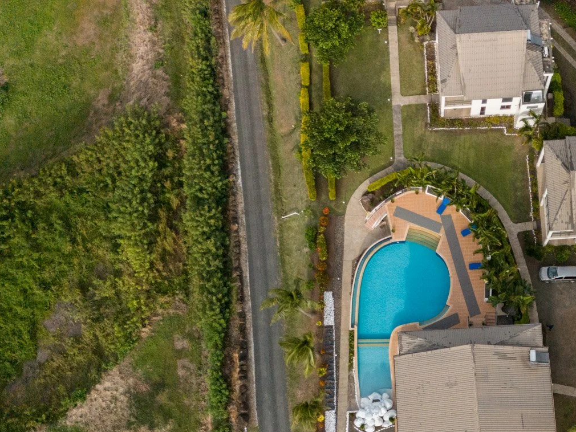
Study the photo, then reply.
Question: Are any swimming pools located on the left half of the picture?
No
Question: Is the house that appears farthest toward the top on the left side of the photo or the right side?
right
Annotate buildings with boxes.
[538,137,576,244]
[436,0,554,123]
[395,324,557,432]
